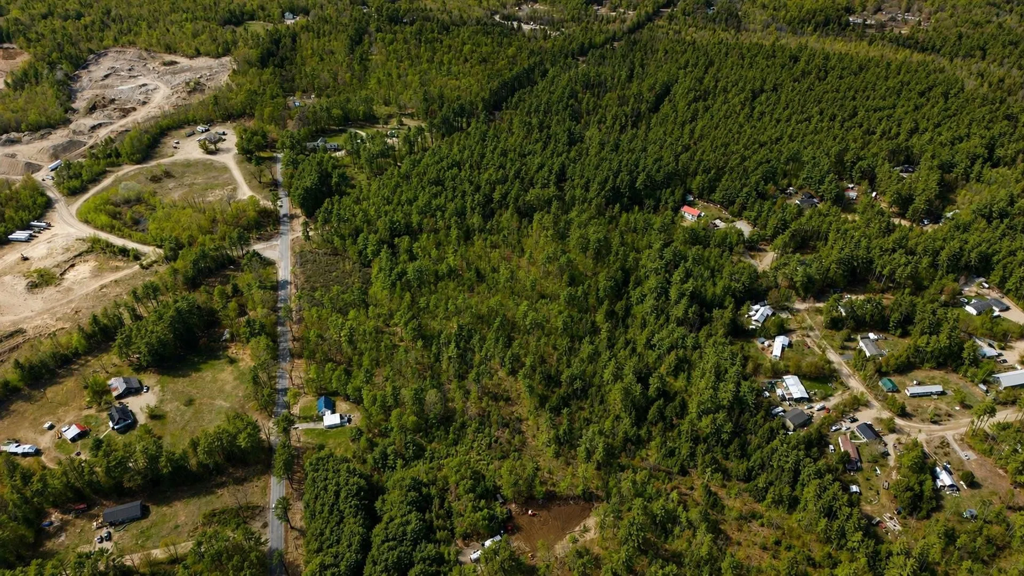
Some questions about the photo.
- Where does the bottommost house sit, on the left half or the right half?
left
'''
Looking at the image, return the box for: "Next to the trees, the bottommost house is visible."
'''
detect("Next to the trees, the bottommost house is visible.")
[94,497,145,532]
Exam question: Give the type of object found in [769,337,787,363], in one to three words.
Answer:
house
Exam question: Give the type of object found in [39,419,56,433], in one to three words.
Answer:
vehicle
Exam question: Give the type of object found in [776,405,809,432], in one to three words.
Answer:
building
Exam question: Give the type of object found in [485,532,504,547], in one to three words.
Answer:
vehicle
